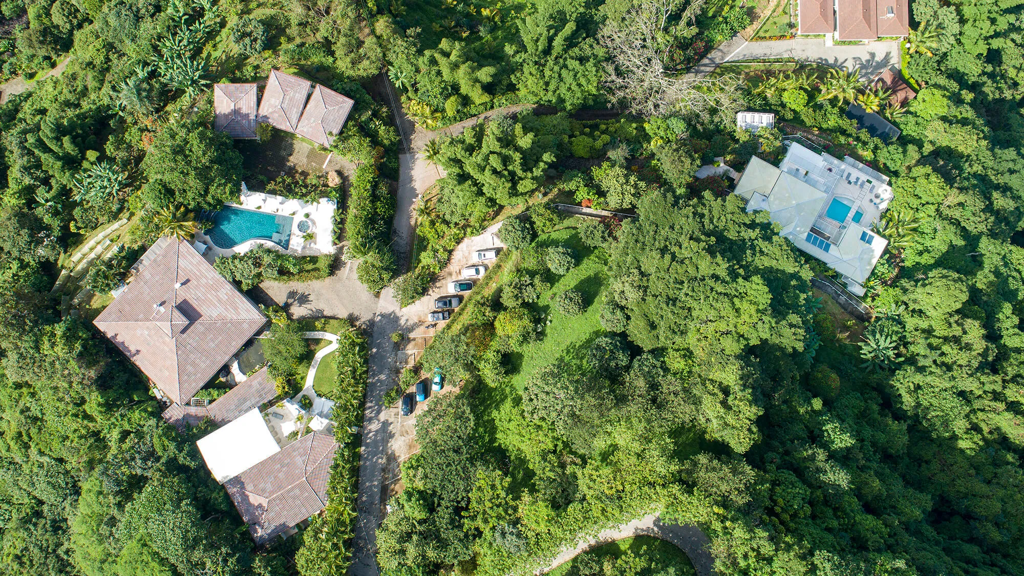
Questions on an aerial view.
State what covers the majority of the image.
trees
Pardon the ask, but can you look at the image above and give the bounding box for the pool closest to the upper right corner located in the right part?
[822,193,867,227]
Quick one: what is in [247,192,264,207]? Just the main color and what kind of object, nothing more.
white umbrella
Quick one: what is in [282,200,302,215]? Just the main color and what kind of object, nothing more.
white umbrella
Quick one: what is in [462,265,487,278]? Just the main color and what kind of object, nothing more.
white vehicle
